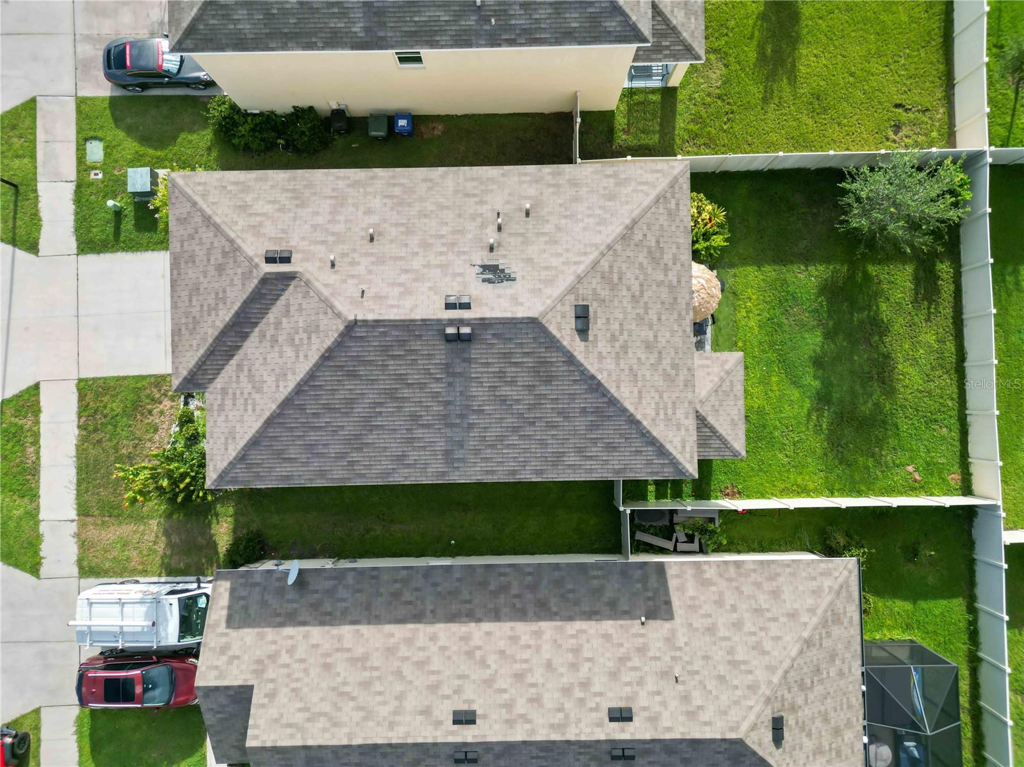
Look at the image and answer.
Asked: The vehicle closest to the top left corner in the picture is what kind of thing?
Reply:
car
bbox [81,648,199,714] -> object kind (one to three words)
car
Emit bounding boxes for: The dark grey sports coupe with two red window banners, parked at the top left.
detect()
[103,33,216,96]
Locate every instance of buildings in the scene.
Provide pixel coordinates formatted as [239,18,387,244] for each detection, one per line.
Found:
[168,158,748,491]
[167,0,707,114]
[193,550,870,767]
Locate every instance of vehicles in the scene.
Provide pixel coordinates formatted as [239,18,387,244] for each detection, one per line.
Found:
[0,729,28,767]
[79,582,211,656]
[103,33,216,96]
[81,648,199,714]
